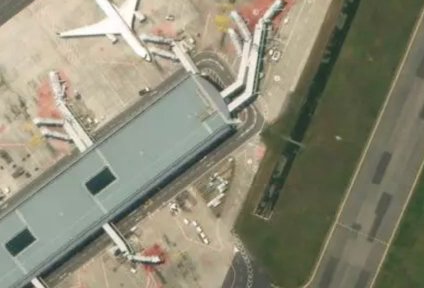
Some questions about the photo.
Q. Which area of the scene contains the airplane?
top left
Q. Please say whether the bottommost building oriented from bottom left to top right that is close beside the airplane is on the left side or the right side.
left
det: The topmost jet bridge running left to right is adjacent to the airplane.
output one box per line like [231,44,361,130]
[140,35,178,47]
